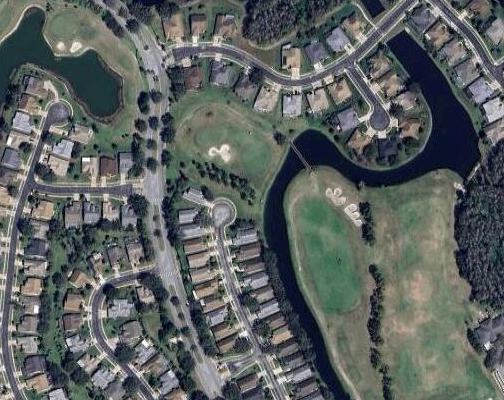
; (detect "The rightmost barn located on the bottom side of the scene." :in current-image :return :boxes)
[471,313,504,359]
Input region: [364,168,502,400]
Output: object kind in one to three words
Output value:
golf course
